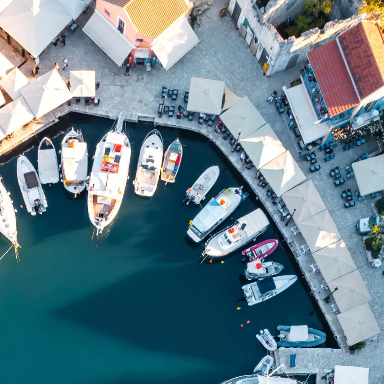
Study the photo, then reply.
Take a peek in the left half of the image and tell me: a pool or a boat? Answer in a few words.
boat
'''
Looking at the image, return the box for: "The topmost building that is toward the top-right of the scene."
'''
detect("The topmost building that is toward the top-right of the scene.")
[224,0,364,72]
